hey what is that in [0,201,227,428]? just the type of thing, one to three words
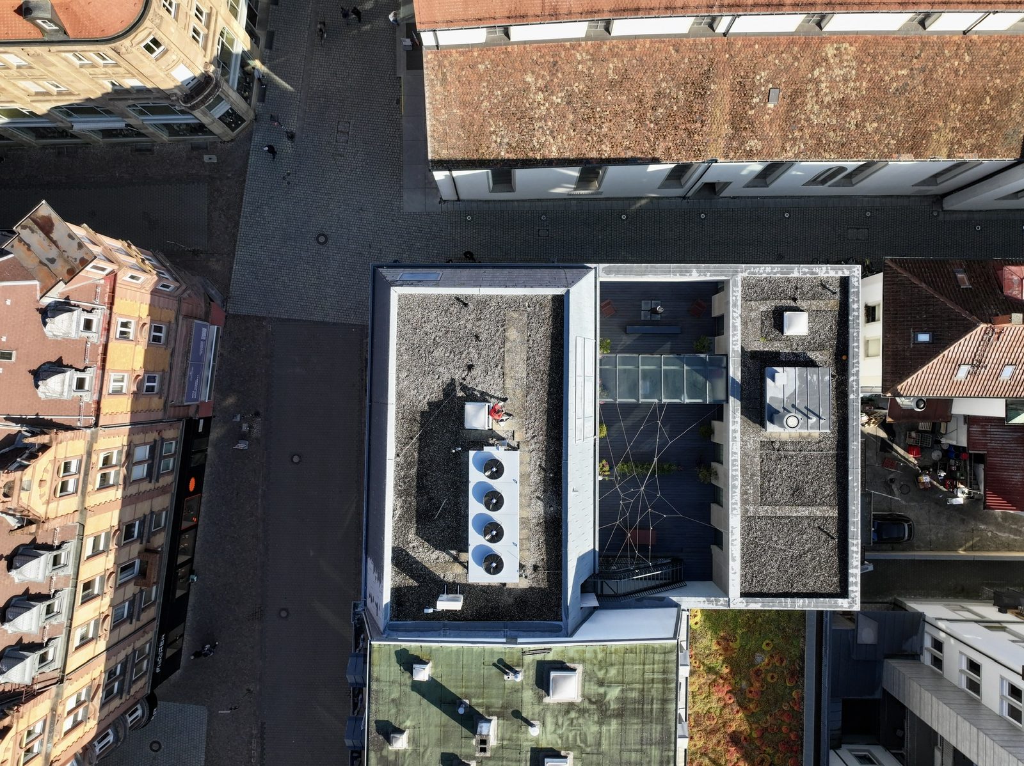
house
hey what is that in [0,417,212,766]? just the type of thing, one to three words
house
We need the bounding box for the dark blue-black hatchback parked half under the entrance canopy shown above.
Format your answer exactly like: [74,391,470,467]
[863,515,922,550]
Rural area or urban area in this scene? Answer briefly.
urban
